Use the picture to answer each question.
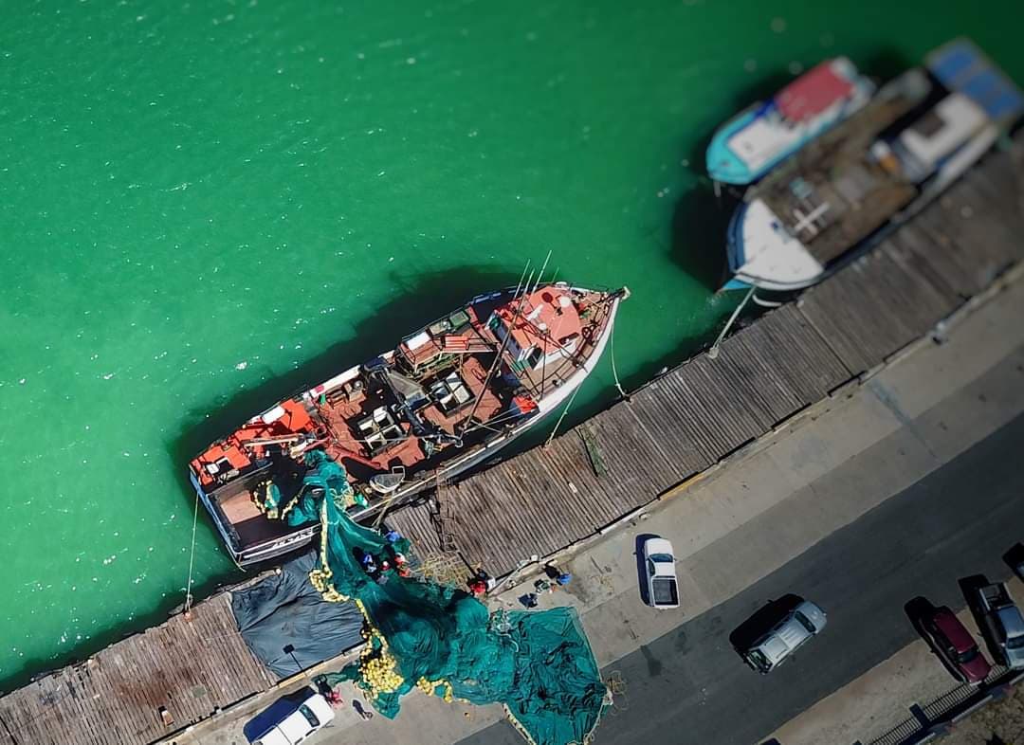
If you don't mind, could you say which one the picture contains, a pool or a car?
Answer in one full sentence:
There is a car in the scene.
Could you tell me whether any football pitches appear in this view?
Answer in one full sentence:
No, there isn't any football pitch down there.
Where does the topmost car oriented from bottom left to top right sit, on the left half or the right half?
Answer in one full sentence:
The topmost car oriented from bottom left to top right sits on the right side.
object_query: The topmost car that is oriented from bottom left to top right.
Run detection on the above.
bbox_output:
[739,597,824,680]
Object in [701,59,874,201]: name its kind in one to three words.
boat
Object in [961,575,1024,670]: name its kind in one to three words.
car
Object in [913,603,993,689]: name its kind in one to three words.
car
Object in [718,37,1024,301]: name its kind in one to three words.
boat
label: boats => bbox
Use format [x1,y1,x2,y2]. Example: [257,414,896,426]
[701,59,874,201]
[718,37,1024,301]
[191,251,631,574]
